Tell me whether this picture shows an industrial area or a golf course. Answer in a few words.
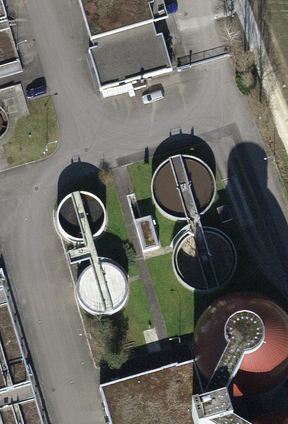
industrial area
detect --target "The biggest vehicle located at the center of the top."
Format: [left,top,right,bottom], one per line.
[142,90,165,104]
